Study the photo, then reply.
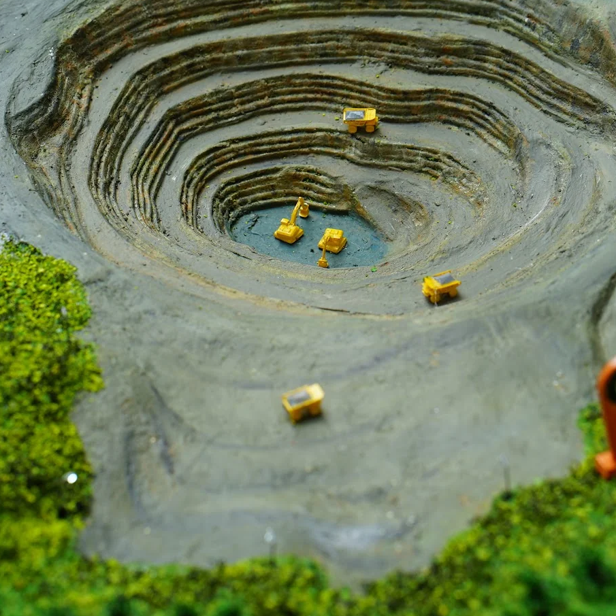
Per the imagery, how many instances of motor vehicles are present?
5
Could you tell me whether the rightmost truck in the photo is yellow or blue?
yellow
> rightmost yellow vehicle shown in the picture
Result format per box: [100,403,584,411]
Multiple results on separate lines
[421,269,459,301]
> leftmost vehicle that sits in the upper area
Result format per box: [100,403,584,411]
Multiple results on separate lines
[273,202,309,246]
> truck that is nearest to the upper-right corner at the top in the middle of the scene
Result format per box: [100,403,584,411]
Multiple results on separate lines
[344,106,377,132]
